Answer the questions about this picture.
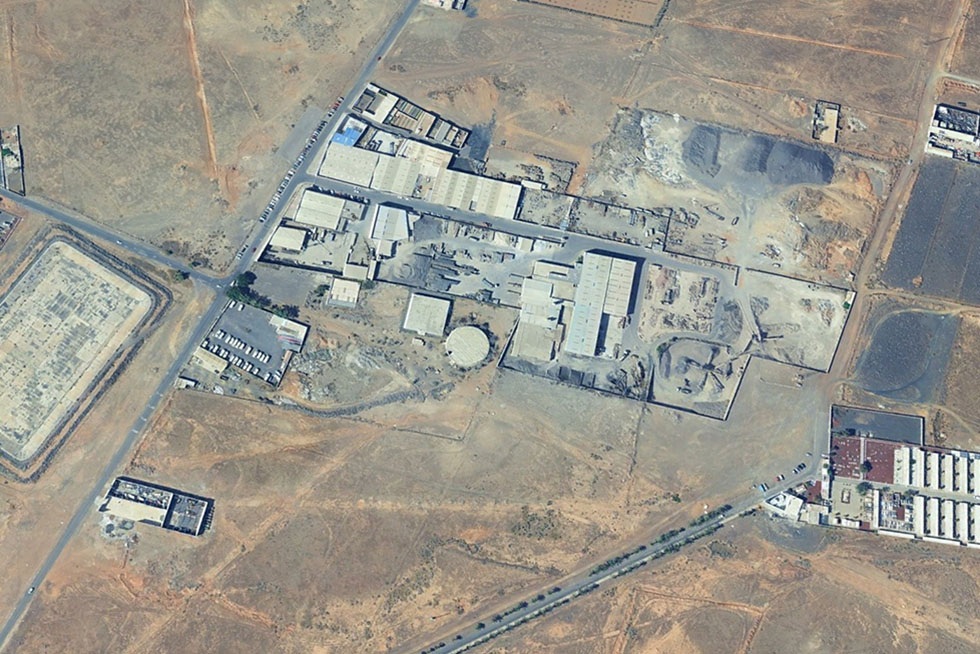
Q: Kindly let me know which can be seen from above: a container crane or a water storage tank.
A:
water storage tank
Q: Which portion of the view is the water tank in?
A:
center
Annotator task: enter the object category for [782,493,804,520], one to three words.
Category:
house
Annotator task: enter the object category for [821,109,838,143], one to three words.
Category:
house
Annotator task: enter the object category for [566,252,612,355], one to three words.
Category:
building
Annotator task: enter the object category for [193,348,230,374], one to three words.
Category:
shed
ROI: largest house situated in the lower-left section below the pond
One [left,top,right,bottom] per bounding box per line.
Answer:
[100,498,167,525]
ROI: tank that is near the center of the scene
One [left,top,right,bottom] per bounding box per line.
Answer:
[441,325,489,368]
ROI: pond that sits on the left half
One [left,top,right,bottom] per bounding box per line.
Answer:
[0,225,166,478]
